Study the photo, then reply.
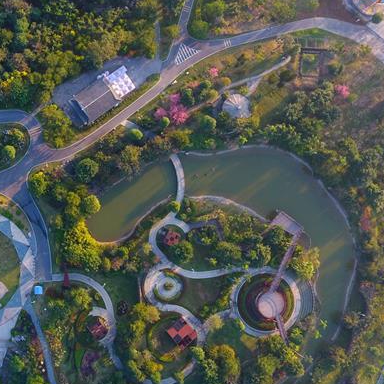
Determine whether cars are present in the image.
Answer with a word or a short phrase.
No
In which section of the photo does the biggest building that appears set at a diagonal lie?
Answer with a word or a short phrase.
top left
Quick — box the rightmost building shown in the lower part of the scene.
[165,316,197,348]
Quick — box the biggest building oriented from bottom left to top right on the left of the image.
[68,66,137,128]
